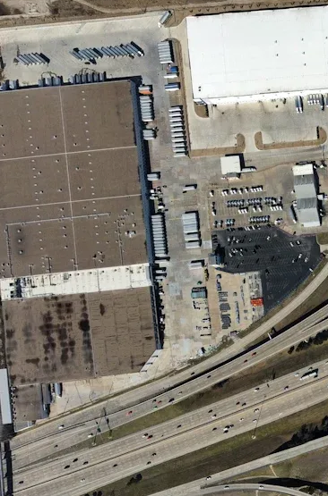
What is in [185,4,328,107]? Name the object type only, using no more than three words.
building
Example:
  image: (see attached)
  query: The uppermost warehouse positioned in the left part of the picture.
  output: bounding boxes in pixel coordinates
[0,80,166,386]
